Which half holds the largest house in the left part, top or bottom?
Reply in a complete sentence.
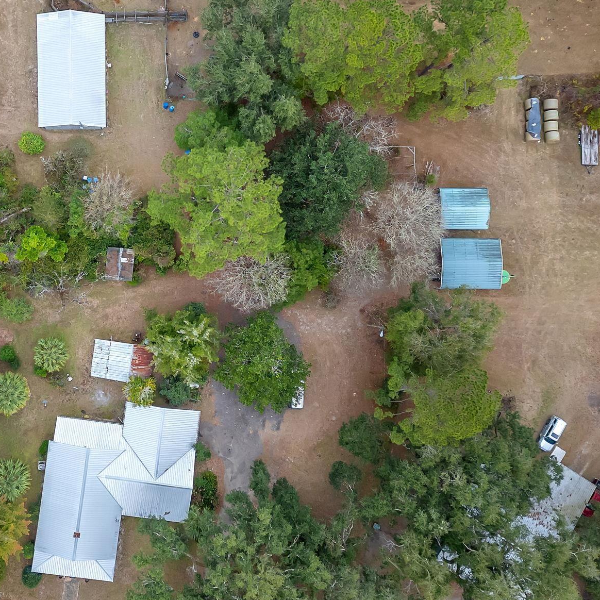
You can find the largest house in the left part in the bottom half.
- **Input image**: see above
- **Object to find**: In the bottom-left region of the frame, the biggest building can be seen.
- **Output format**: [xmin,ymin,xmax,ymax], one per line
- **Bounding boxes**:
[31,402,201,582]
